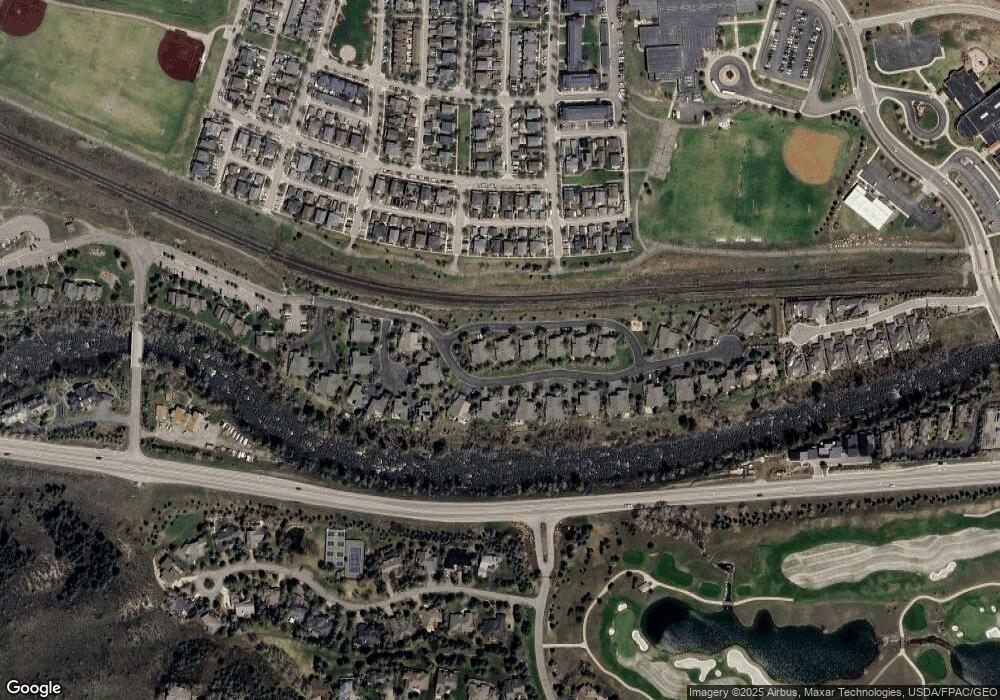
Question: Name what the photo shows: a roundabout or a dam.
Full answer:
Visible in the photo is a roundabout.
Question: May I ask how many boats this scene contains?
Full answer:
I count no boats.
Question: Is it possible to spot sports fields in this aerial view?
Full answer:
Yes, looking at the shot, I can spot a sports field.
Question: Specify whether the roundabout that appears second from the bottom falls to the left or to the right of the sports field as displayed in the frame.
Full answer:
Looking at the photo, the roundabout that appears second from the bottom lies to the right of the sports field.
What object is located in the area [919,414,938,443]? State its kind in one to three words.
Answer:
house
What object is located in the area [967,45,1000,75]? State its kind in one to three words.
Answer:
playground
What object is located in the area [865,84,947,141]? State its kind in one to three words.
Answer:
roundabout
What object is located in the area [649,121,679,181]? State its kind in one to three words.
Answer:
sports court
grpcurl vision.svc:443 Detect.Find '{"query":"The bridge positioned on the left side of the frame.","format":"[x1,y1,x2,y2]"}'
[131,326,144,370]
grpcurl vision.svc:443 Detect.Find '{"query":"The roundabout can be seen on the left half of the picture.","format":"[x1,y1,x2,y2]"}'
[194,567,224,597]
